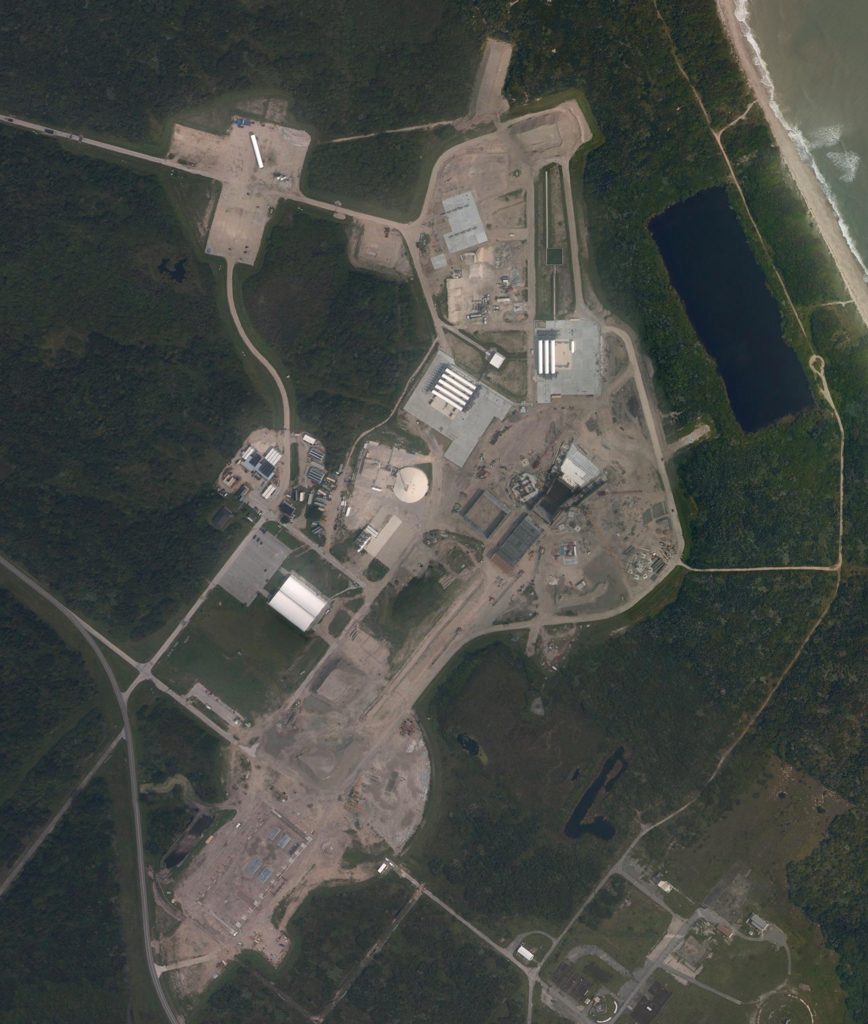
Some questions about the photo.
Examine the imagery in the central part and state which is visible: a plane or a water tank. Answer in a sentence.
You can see a water tank in the central part.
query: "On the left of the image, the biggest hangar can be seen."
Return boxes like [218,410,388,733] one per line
[269,575,327,632]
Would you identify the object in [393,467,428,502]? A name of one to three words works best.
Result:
water tank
